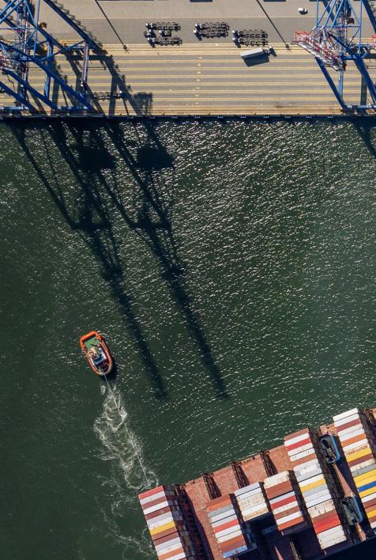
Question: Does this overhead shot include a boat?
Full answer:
Yes, a boat can be made out from above.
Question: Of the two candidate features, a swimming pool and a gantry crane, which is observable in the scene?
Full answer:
The one in the frame is a gantry crane.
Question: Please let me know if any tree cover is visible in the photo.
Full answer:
No, the picture contains no tree cover.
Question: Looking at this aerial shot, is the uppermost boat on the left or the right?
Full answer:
It is on the left.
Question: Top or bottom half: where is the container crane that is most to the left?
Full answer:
Seen from above, the container crane that is most to the left lies in the top half of the view.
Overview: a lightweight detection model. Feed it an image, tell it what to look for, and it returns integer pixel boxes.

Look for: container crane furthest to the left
[0,12,53,109]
